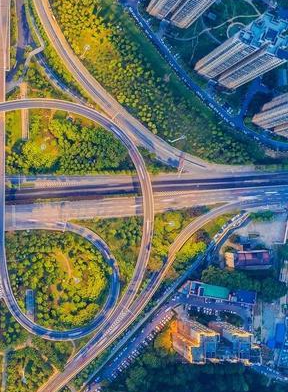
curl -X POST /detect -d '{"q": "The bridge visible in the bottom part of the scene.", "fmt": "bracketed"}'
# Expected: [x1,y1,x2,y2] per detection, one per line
[66,219,237,392]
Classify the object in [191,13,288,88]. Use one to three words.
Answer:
building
